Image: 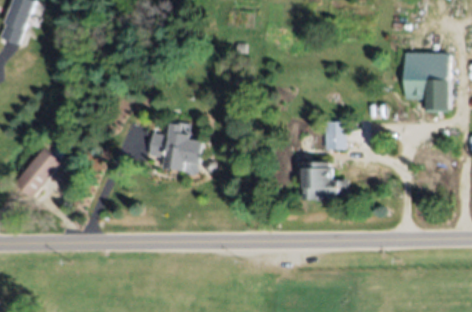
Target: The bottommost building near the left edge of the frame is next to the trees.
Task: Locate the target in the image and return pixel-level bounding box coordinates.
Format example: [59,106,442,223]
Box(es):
[18,150,61,198]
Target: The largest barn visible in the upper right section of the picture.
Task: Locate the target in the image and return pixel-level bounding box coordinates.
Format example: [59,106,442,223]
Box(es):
[404,54,452,113]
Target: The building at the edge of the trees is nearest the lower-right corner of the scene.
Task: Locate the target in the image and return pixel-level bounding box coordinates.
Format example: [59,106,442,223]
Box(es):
[302,164,346,200]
